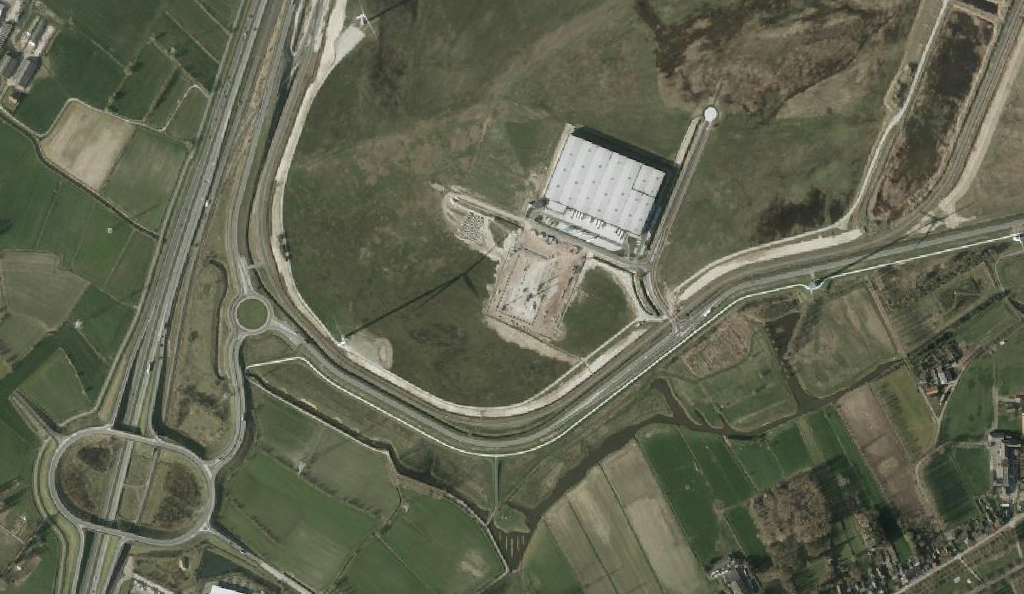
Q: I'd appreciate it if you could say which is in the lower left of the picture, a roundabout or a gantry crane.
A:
roundabout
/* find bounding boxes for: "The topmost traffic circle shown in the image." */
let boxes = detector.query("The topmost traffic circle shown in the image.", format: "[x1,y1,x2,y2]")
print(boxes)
[231,293,273,335]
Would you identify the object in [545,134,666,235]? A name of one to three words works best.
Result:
building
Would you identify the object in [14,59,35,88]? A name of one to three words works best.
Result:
barn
